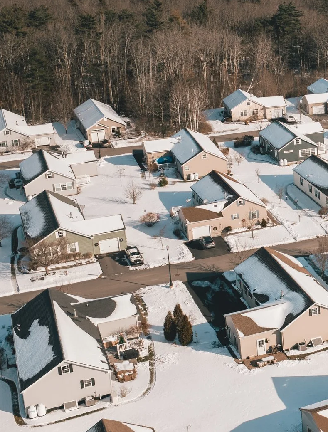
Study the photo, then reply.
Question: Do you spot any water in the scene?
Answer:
No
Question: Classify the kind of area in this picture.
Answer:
residential area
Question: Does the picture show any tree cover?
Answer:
Yes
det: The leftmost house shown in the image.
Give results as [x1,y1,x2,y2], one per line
[0,109,55,153]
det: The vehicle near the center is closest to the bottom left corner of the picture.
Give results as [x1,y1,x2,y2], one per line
[124,247,143,264]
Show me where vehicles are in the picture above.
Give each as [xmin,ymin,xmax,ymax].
[99,137,112,147]
[284,111,294,121]
[197,234,215,249]
[124,247,143,264]
[78,137,91,146]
